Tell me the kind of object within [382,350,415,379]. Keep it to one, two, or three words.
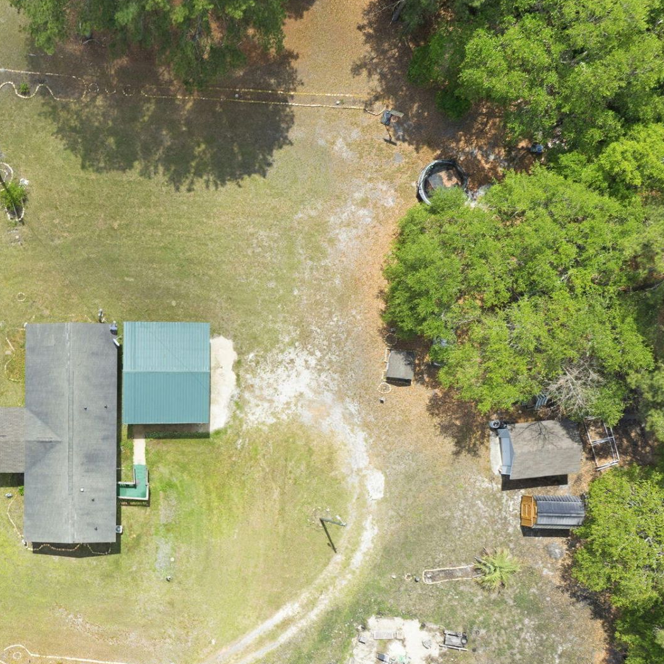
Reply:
shed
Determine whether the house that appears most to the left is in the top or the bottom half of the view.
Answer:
bottom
